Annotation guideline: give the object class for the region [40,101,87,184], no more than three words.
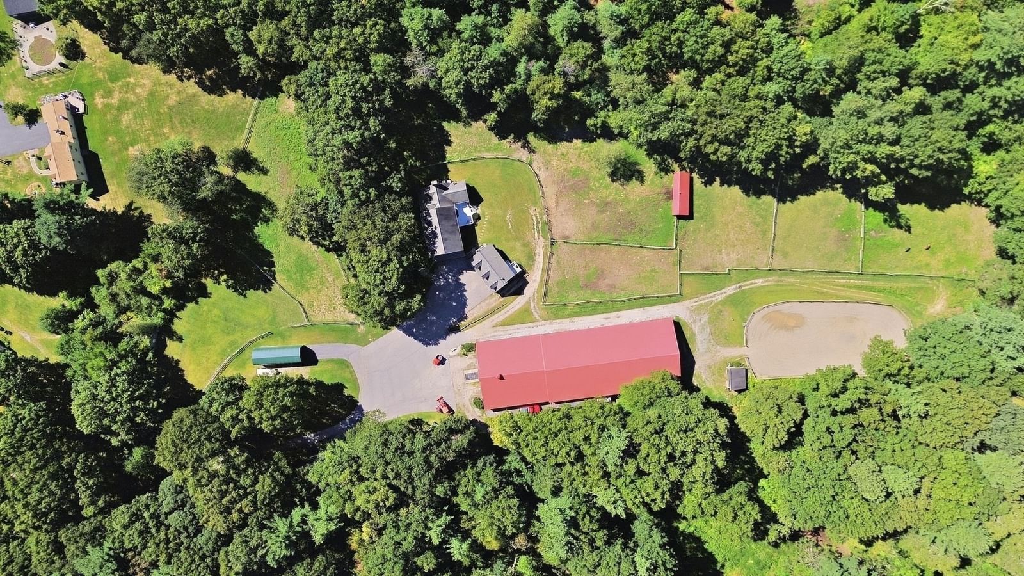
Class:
house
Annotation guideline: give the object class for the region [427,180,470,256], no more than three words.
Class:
house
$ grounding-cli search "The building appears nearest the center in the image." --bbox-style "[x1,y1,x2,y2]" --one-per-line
[472,244,516,292]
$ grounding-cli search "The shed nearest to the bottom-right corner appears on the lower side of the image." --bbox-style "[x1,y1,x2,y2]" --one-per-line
[726,368,746,390]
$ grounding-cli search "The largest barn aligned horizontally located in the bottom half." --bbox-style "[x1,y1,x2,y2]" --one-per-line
[476,318,682,410]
